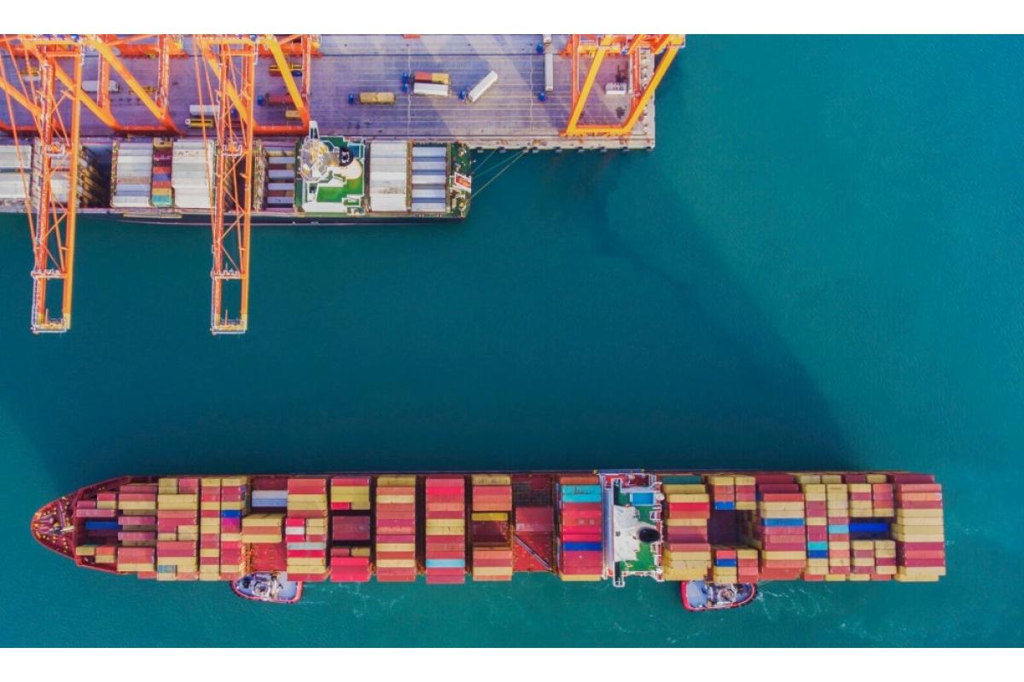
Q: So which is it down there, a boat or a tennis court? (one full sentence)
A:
I can see a boat in this picture.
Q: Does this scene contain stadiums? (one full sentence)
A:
No, there appears to be no stadium in this shot.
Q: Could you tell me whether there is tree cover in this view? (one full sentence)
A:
No, the scene doesn't show any tree cover.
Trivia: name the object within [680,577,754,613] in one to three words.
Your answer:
boat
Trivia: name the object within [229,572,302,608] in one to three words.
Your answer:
boat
